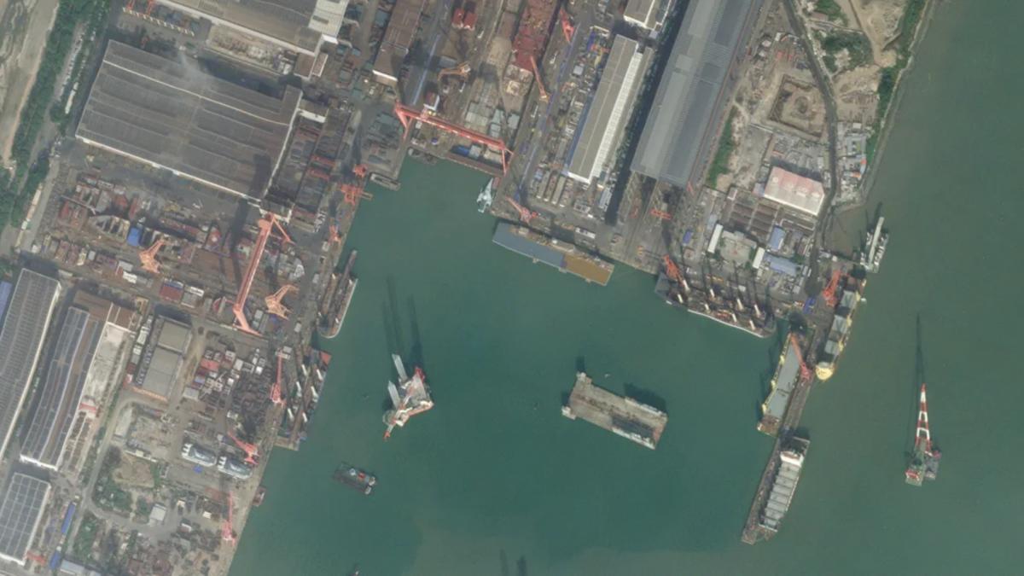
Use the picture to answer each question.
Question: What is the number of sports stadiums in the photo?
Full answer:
The picture shows no sports stadiums.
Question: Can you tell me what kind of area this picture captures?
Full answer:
This image shows a port.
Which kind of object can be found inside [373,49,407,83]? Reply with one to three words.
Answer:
shed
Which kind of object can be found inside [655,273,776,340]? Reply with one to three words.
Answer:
ship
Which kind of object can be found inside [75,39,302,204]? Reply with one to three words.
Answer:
building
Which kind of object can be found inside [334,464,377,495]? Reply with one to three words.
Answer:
ship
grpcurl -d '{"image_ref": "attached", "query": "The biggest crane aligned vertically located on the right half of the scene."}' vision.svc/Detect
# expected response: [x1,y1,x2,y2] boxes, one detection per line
[905,385,939,486]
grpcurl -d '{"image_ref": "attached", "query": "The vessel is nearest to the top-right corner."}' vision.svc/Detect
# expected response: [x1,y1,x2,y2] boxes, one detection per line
[859,216,889,273]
